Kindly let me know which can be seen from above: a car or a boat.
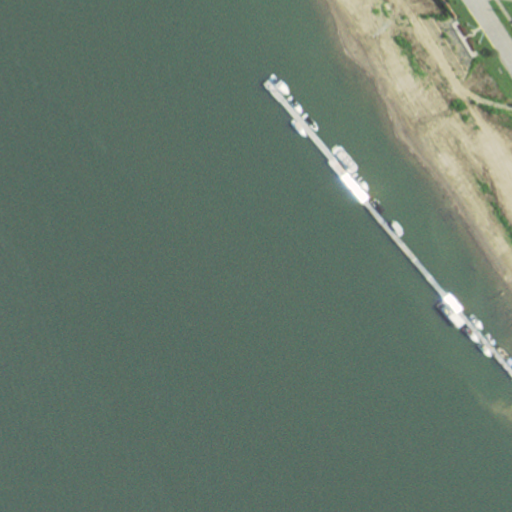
boat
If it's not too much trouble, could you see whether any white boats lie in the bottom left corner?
No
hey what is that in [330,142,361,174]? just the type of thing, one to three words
boat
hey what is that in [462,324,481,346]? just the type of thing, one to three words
boat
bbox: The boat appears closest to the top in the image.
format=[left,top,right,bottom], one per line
[268,70,290,96]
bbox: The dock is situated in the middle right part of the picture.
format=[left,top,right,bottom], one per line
[260,76,512,376]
